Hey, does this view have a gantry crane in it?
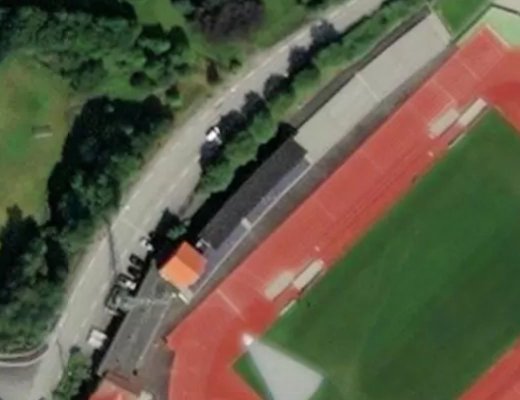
No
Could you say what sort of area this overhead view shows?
sports ground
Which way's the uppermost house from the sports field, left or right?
left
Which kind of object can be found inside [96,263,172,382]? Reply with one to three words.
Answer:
building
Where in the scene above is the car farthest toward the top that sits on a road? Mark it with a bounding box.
[206,126,220,141]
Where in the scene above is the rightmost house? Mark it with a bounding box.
[158,242,208,290]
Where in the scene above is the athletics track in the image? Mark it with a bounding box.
[168,26,520,400]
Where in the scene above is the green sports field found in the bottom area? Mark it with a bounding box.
[233,107,520,400]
